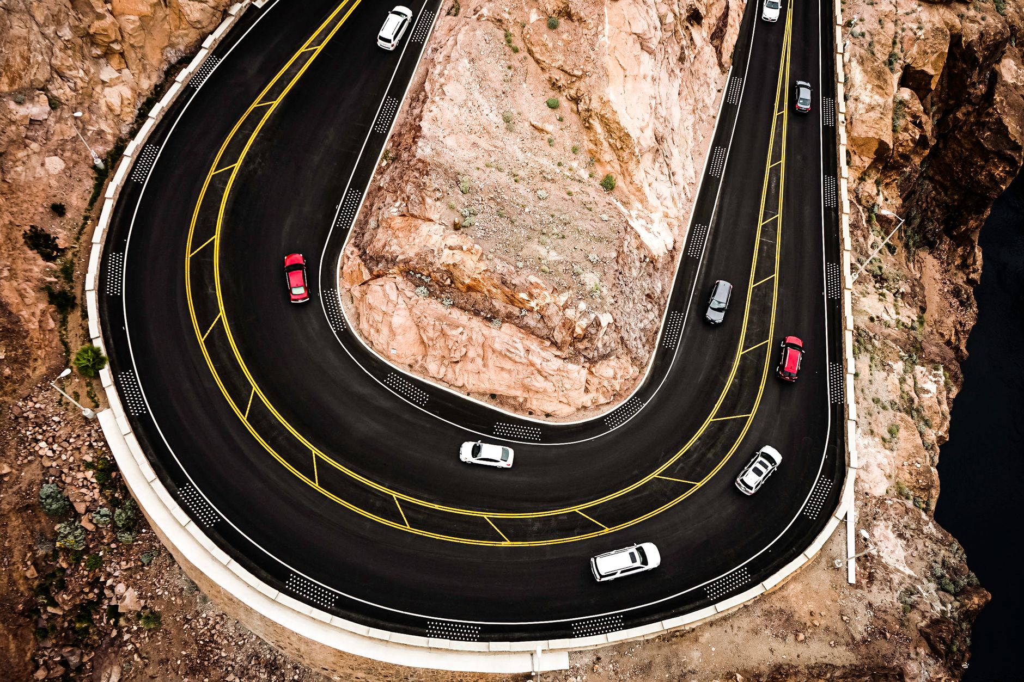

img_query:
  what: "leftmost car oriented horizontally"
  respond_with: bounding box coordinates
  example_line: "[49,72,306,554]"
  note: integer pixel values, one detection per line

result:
[459,440,515,469]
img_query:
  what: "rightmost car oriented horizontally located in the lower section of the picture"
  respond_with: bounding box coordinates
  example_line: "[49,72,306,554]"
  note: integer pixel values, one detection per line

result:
[591,544,660,581]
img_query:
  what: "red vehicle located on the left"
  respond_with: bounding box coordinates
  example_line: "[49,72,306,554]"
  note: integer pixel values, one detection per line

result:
[284,255,311,305]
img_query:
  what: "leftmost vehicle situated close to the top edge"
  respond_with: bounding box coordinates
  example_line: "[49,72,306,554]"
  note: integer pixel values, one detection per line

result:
[376,7,412,51]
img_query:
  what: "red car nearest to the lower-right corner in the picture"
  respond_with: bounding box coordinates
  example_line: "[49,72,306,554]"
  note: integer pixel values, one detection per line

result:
[777,336,806,382]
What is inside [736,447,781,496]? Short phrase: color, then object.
white car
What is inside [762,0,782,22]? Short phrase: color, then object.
white car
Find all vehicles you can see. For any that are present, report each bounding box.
[793,81,814,113]
[284,255,311,305]
[376,7,412,51]
[762,0,782,22]
[705,278,733,325]
[459,440,515,469]
[736,447,781,496]
[591,544,660,581]
[777,336,806,382]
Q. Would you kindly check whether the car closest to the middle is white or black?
white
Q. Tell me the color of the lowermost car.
white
